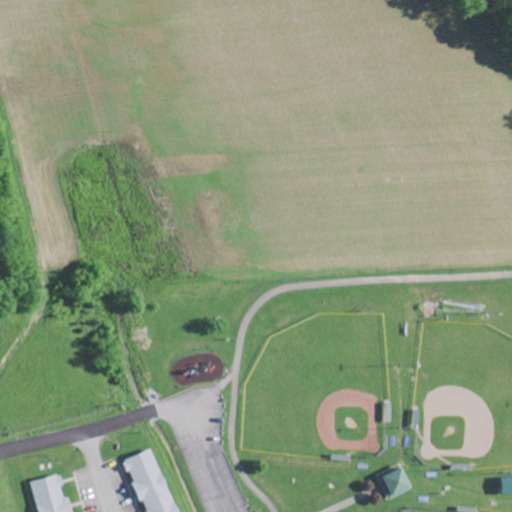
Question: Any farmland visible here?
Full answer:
Yes, farmland shows up in the scene.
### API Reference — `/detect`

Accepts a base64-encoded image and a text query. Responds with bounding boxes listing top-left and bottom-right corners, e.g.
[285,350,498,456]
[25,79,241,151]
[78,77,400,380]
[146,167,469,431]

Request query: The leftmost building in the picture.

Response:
[30,474,73,512]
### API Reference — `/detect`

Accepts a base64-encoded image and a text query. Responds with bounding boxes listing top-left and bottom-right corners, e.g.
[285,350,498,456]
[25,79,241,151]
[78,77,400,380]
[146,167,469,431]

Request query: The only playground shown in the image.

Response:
[171,353,224,386]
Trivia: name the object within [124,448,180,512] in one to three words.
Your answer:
building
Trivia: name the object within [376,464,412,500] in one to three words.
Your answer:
building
